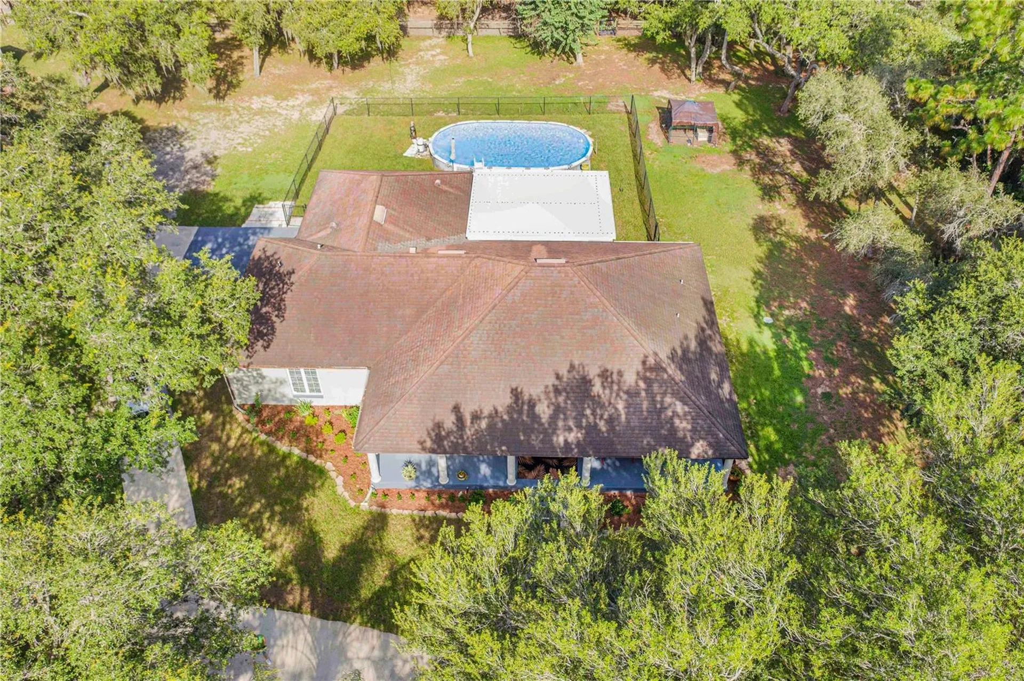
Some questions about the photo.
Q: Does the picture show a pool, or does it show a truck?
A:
pool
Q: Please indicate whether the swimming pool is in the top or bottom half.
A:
top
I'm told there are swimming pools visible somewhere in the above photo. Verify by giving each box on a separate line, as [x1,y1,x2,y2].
[426,120,593,182]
